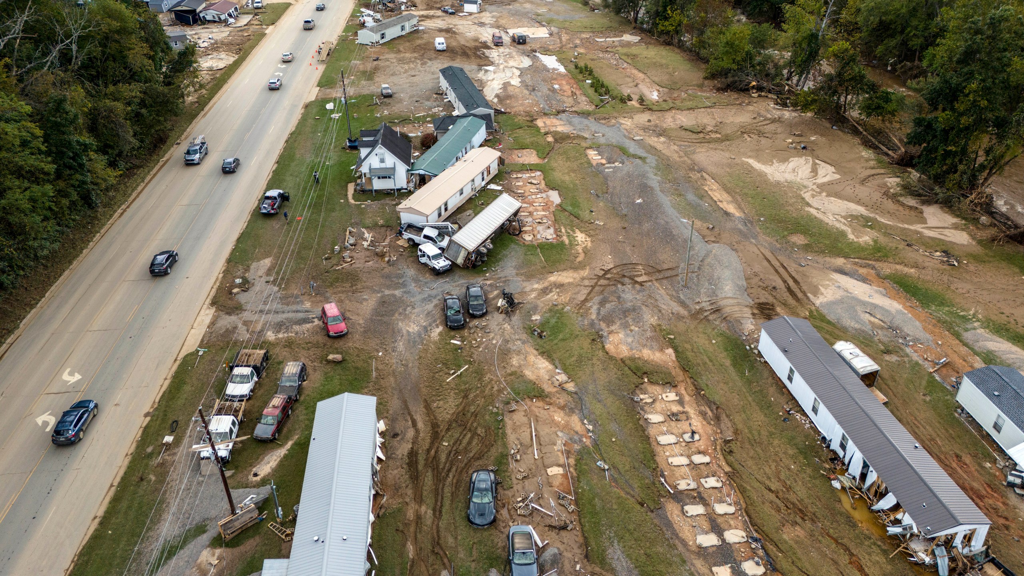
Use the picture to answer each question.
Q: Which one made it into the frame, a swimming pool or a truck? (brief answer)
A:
truck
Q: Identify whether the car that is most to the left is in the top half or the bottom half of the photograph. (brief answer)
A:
bottom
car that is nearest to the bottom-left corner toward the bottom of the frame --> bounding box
[49,399,98,446]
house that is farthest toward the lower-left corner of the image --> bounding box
[286,391,391,576]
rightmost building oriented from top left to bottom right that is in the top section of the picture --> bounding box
[437,65,496,131]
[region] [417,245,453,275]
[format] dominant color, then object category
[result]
white car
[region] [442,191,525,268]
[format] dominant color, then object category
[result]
white trailer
